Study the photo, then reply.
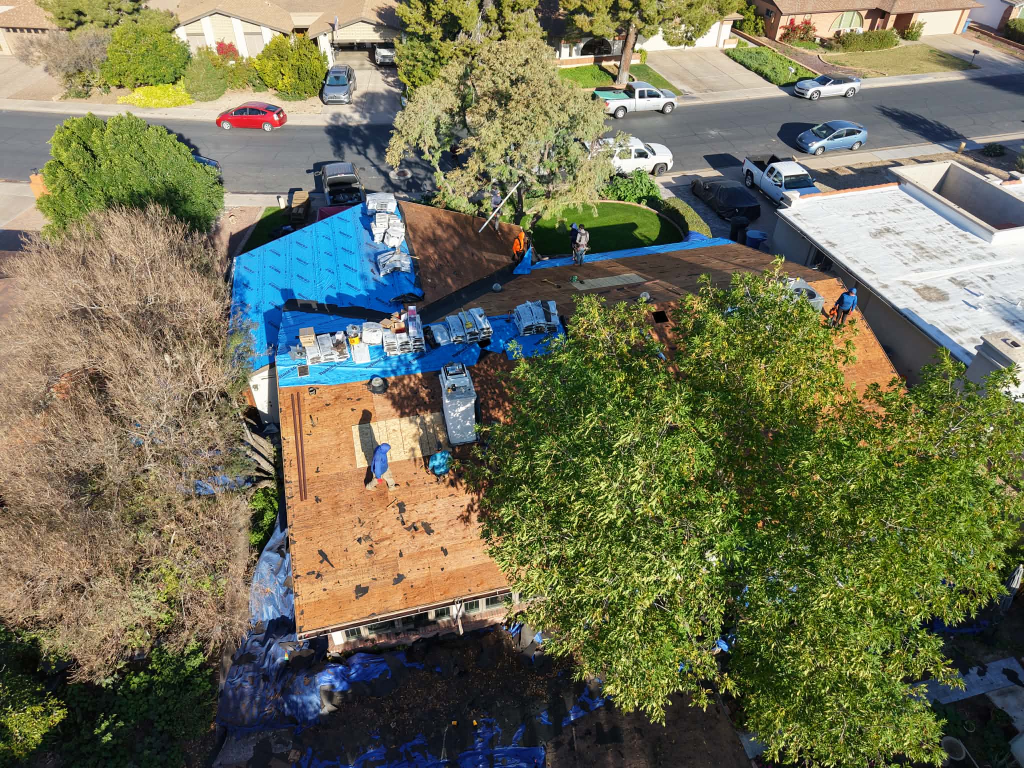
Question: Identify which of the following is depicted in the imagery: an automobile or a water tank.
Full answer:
Looking from above, you can make out an automobile.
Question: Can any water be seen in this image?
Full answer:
No, there's no water in this view.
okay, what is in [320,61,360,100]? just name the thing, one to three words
car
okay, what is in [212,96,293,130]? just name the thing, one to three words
car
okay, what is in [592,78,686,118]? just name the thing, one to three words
truck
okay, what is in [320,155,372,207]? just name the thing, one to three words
truck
